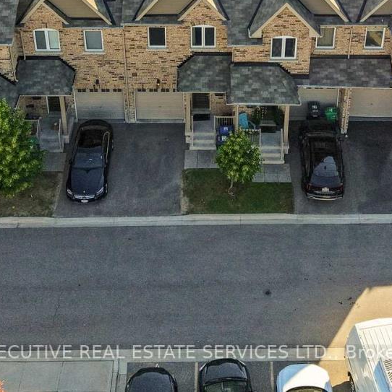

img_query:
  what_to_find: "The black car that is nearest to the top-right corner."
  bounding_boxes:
[294,117,347,191]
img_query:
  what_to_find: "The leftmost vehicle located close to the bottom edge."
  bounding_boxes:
[123,359,180,392]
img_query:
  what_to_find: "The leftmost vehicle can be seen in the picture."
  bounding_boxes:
[62,117,114,194]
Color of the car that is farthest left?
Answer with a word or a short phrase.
black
